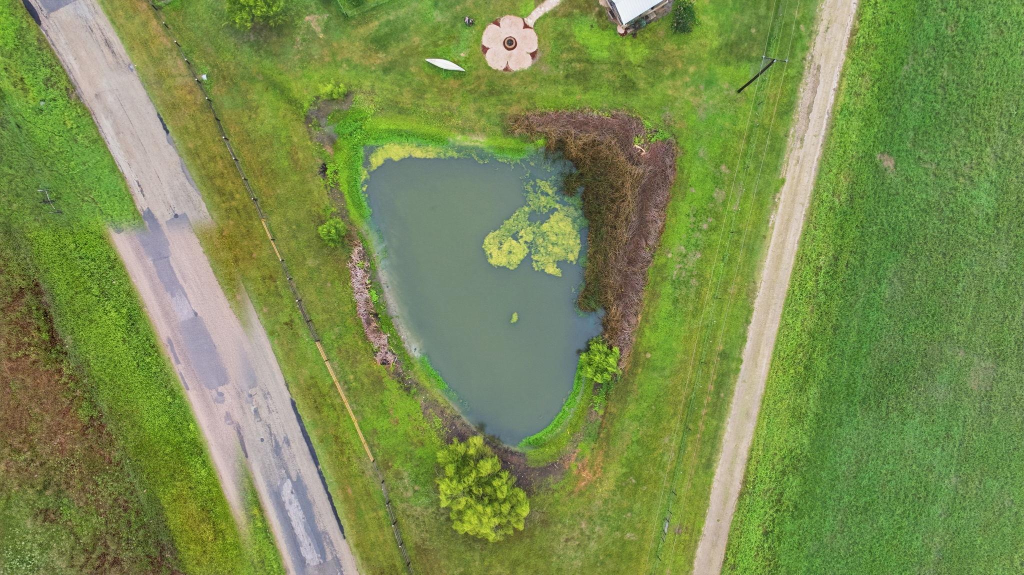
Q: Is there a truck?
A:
No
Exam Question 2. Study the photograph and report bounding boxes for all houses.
[600,0,671,33]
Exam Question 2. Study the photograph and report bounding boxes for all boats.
[426,59,465,72]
